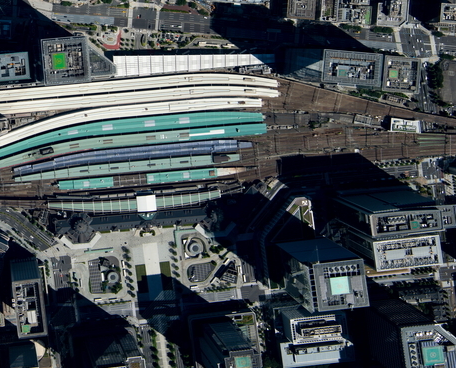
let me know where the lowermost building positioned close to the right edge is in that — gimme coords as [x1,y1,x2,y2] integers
[360,299,456,368]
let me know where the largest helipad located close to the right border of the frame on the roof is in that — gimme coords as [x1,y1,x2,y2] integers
[423,345,445,366]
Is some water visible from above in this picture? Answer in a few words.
No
